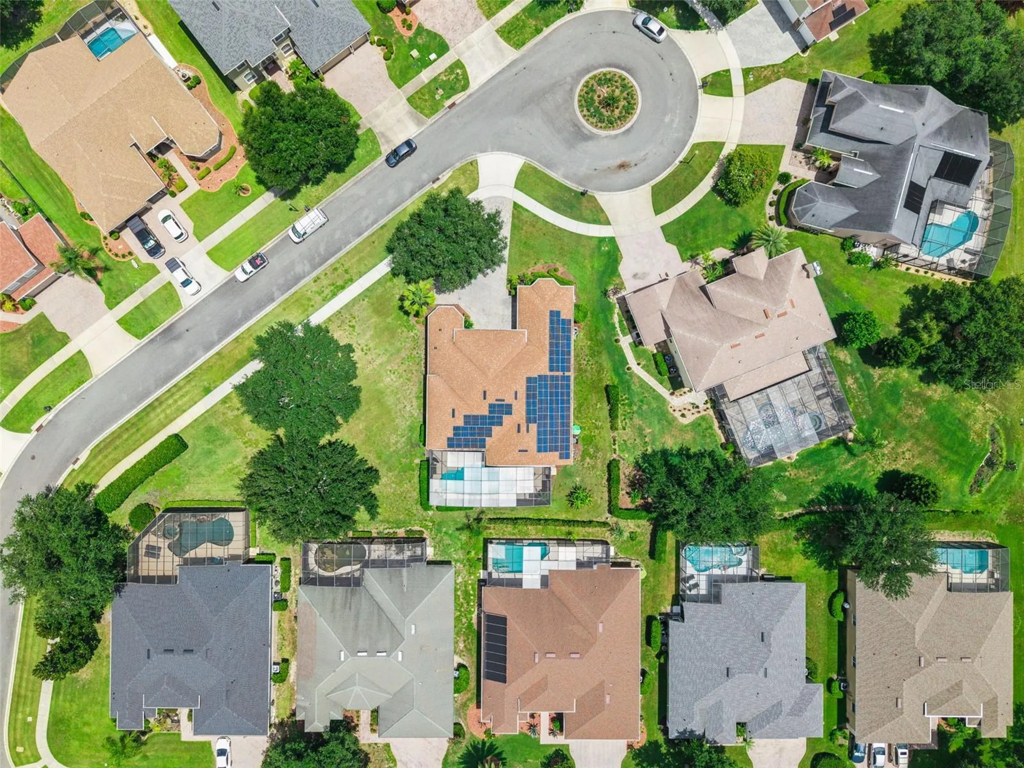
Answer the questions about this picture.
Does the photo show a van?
Yes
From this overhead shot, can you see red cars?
No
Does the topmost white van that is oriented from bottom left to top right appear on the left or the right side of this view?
left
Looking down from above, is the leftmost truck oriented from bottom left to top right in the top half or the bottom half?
top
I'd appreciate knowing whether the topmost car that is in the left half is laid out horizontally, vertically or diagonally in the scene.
diagonally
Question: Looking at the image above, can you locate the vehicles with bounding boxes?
[233,251,272,284]
[848,730,868,763]
[869,744,889,768]
[158,208,190,245]
[288,206,330,243]
[164,256,202,297]
[127,215,166,259]
[631,12,668,45]
[384,137,420,169]
[214,736,233,768]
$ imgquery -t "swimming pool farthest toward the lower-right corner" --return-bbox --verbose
[933,549,990,575]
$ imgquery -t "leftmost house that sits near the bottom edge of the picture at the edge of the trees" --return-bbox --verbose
[110,563,275,736]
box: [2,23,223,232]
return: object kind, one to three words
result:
house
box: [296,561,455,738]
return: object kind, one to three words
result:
building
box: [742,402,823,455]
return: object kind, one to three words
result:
swimming pool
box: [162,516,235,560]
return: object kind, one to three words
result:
swimming pool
